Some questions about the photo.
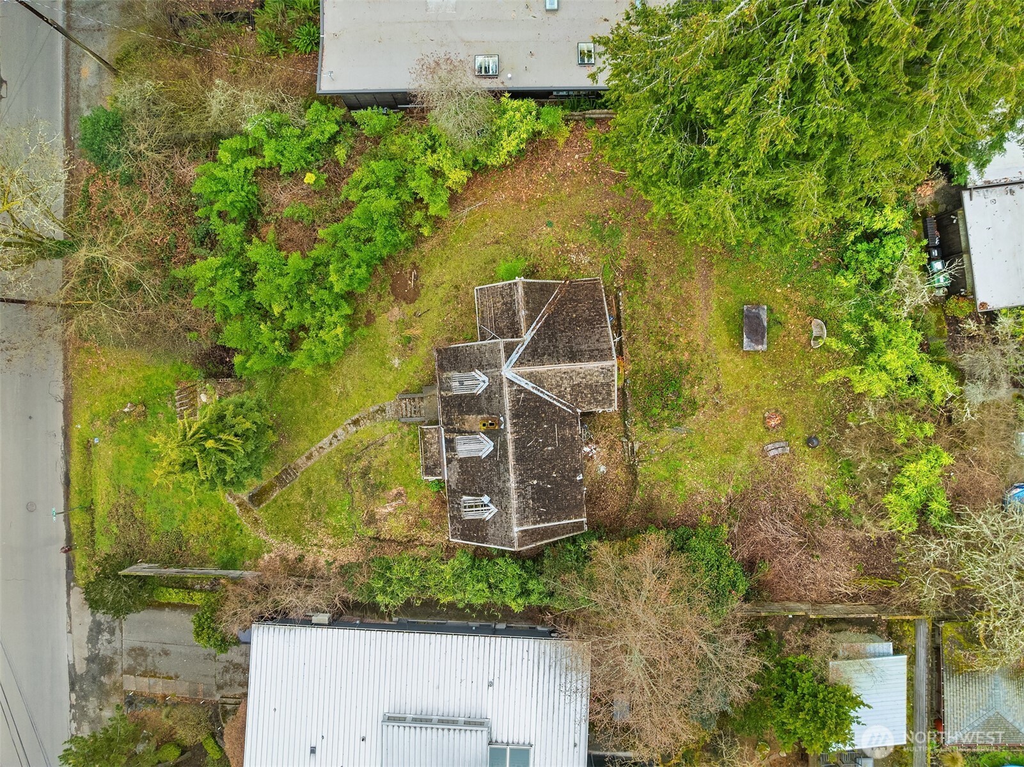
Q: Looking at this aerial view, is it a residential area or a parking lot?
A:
residential area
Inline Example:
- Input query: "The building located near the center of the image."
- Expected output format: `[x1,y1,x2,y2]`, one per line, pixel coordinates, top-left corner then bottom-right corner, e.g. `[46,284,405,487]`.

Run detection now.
[419,277,619,551]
